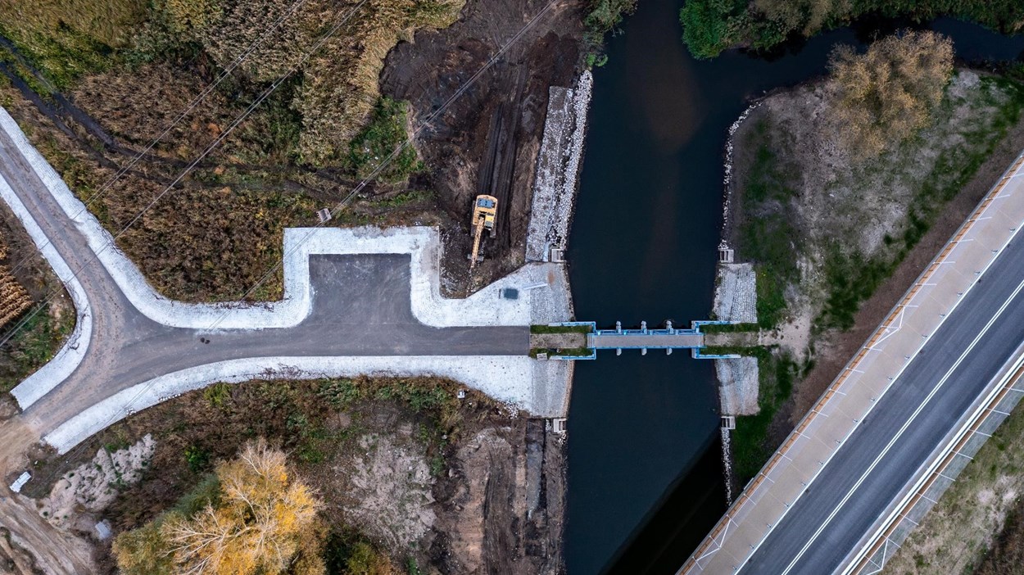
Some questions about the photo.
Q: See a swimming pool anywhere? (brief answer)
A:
No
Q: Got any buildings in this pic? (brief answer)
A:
No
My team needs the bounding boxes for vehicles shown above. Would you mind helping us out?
[470,194,497,263]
